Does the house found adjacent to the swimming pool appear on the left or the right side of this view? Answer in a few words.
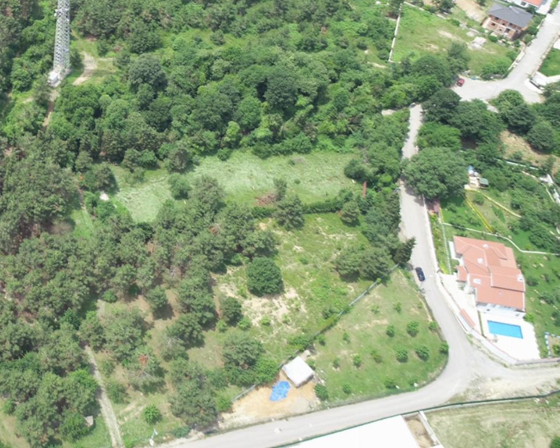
right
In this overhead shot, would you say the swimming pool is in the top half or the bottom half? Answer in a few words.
bottom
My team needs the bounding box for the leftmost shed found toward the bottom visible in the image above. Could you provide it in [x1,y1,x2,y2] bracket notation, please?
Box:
[281,356,316,390]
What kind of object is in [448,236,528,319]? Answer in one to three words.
house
